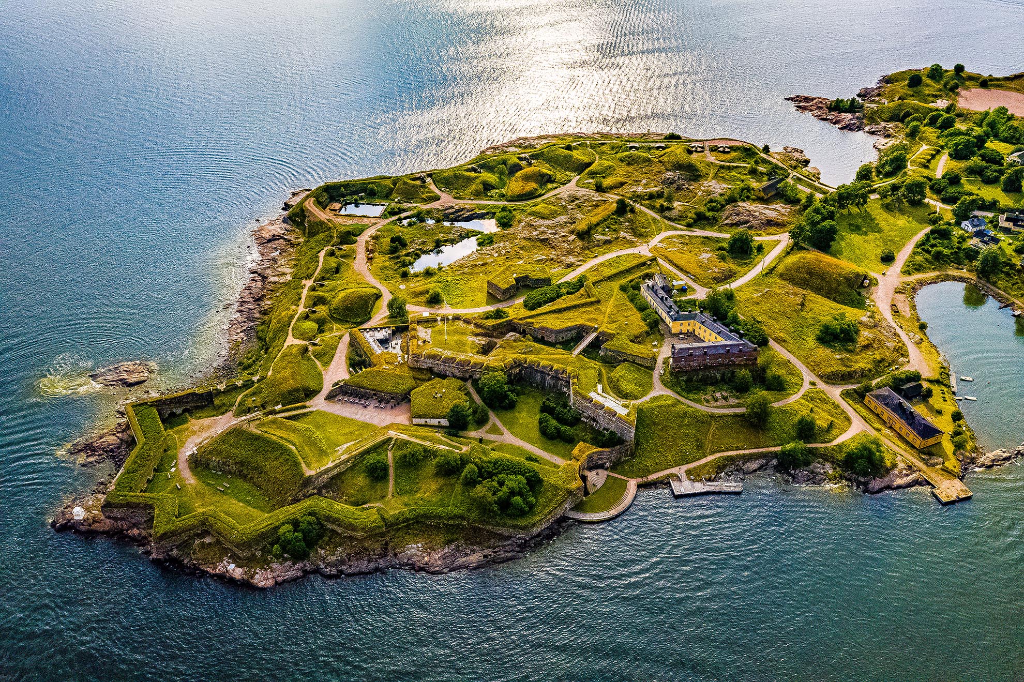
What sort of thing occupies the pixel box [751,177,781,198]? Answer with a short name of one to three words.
house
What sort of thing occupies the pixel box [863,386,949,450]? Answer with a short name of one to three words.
house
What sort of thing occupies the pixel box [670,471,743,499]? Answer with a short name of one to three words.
pier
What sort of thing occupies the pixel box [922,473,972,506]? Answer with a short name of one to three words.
pier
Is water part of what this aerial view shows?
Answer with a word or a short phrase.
Yes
